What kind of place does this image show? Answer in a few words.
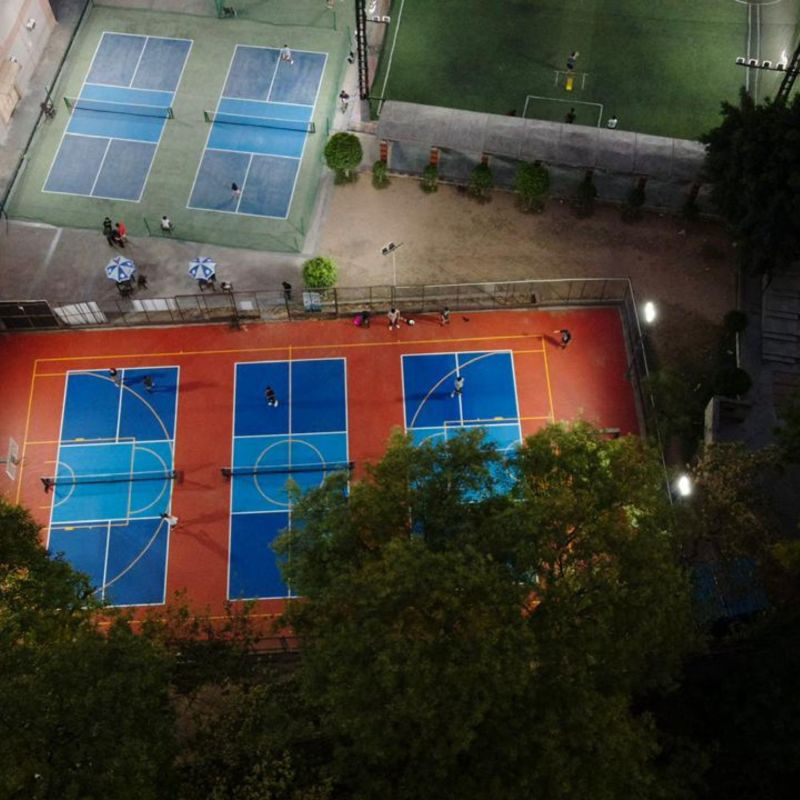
sports ground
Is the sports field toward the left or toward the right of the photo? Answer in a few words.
right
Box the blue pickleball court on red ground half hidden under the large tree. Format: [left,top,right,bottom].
[401,349,527,583]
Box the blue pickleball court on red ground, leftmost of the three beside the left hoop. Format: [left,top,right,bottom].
[40,365,180,609]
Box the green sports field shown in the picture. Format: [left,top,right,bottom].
[370,0,800,149]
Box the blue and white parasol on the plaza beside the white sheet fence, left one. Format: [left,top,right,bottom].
[108,259,137,283]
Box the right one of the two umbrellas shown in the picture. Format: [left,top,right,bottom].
[191,258,217,282]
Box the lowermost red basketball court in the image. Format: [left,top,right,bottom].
[0,307,648,661]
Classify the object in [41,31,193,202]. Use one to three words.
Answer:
sports court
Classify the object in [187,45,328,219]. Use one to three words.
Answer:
sports court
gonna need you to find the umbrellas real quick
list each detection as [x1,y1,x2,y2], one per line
[108,259,137,283]
[191,258,217,282]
